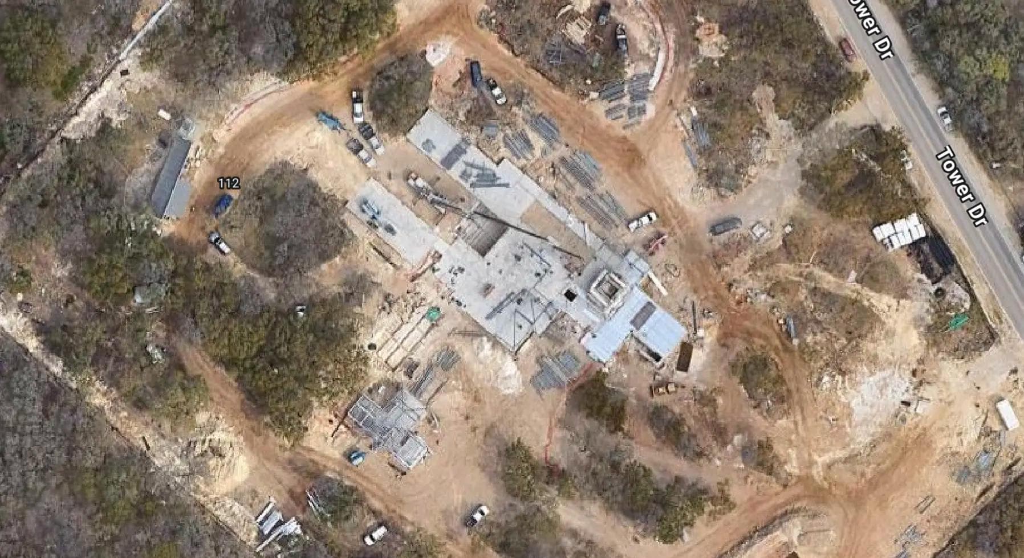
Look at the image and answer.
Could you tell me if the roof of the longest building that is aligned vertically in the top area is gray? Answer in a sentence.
Yes, the roof of the longest building that is aligned vertically in the top area is indeed gray.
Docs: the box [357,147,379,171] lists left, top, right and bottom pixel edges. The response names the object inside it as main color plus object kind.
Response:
white truck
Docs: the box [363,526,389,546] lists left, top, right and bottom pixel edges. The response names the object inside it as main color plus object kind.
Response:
white car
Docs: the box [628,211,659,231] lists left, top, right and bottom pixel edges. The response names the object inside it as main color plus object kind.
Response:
white vehicle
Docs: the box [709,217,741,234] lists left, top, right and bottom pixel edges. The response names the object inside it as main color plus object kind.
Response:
gray car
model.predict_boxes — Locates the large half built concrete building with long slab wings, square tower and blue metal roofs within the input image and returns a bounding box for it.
[346,109,687,365]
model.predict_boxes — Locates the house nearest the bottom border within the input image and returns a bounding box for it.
[348,389,428,468]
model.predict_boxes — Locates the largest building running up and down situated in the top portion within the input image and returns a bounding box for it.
[150,138,193,218]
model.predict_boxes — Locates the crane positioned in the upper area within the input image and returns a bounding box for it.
[408,171,581,258]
